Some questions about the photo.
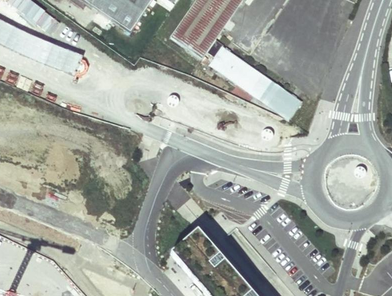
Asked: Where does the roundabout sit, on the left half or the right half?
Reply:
right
